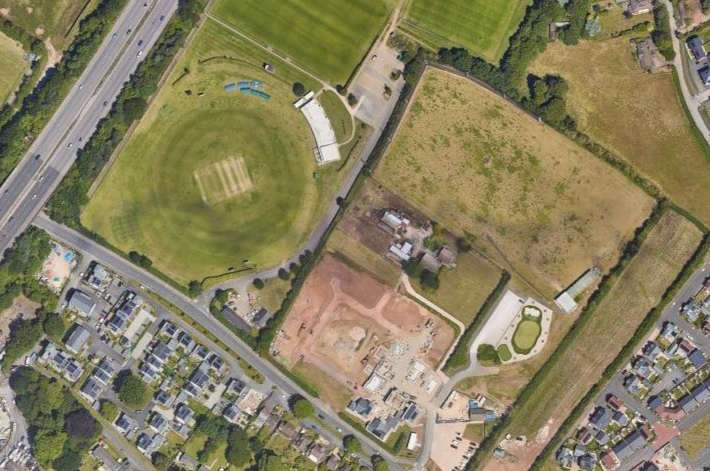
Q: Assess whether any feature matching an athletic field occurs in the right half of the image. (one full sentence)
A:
Yes, there is an athletic field in the right half of the image.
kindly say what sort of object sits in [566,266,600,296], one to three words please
barn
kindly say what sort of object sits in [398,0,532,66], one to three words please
sports field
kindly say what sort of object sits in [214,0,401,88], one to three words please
sports field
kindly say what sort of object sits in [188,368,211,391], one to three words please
house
